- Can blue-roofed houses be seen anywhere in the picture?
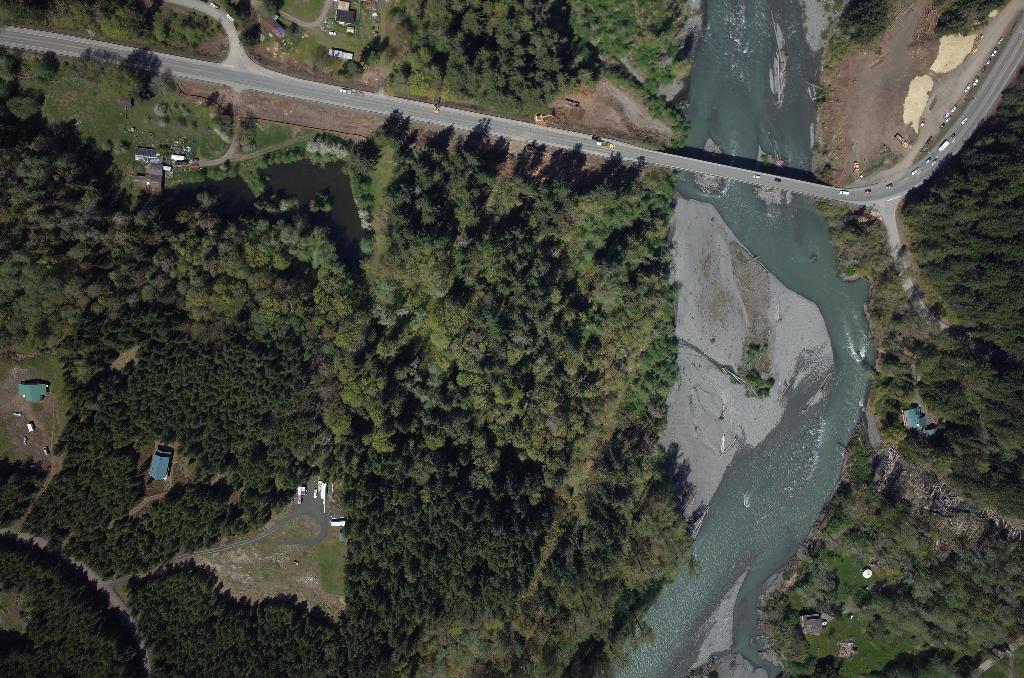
Yes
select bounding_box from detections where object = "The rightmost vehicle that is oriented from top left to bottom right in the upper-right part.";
[893,132,909,148]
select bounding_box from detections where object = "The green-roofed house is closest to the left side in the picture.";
[20,384,49,402]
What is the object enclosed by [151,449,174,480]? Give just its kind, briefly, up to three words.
house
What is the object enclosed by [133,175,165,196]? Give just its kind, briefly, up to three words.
house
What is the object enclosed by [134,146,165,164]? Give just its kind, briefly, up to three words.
barn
